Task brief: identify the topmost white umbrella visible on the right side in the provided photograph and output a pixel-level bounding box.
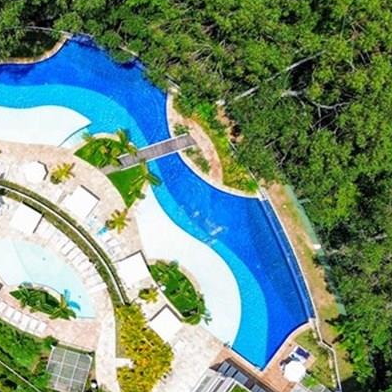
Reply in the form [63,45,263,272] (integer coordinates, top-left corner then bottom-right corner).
[283,361,303,379]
